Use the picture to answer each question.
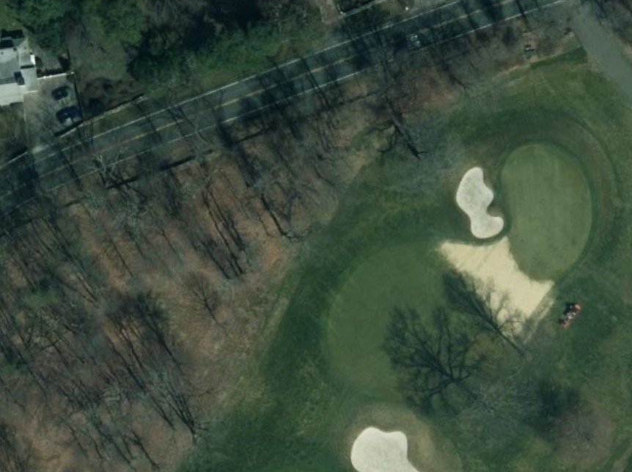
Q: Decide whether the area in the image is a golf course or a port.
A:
golf course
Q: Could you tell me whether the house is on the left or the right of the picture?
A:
left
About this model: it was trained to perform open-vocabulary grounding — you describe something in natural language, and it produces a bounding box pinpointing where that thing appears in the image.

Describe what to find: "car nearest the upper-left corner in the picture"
[49,86,71,99]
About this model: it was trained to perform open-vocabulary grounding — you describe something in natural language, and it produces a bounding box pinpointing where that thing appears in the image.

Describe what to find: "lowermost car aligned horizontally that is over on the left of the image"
[56,109,80,121]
